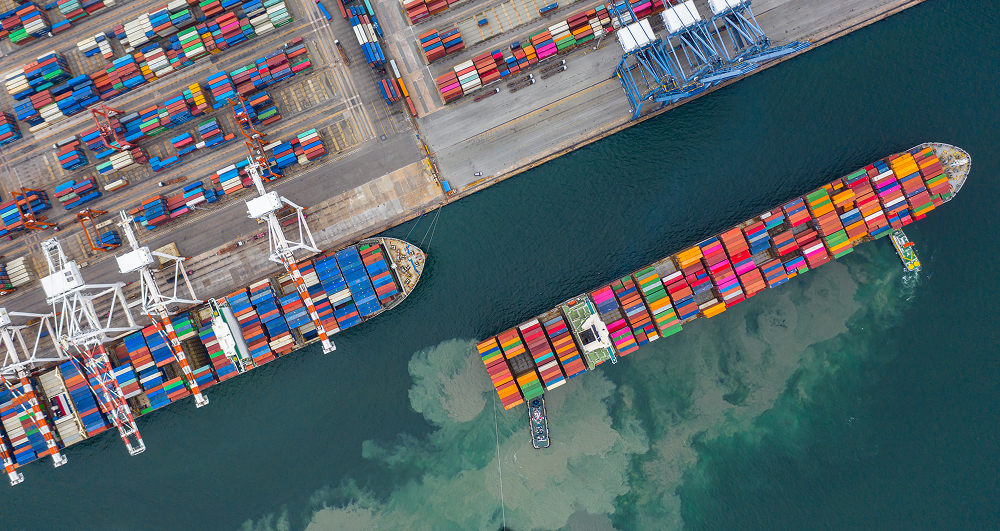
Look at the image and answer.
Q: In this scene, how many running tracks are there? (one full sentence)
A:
Not a single running track can be seen.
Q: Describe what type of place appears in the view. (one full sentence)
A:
This looks like a port.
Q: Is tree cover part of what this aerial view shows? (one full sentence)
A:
No, tree cover can't be seen anywhere here.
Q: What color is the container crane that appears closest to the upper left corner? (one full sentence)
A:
In this view, the container crane that appears closest to the upper left corner is red.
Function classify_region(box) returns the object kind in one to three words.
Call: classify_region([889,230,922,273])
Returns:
boat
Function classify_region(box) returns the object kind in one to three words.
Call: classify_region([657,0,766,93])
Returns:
container crane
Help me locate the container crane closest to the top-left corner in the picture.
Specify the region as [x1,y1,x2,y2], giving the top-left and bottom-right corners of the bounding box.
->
[91,104,142,154]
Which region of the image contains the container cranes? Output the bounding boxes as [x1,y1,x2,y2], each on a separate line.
[240,152,337,357]
[91,104,142,154]
[657,0,766,93]
[609,0,713,121]
[694,0,819,86]
[37,233,150,460]
[228,94,272,143]
[75,211,126,253]
[245,137,287,184]
[11,187,64,230]
[0,290,75,471]
[112,206,210,412]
